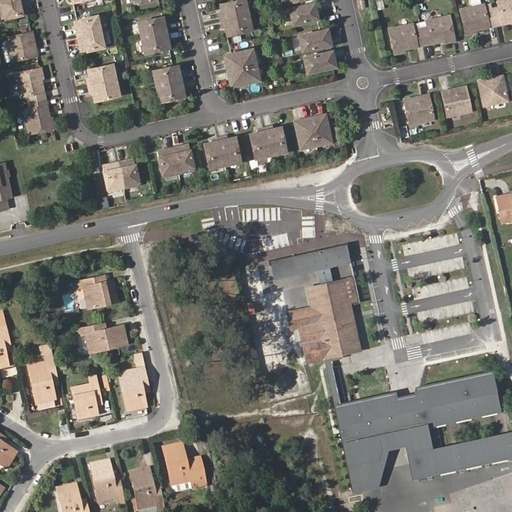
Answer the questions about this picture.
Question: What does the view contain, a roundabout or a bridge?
roundabout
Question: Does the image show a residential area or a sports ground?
residential area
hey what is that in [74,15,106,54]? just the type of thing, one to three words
house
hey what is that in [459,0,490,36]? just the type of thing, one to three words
house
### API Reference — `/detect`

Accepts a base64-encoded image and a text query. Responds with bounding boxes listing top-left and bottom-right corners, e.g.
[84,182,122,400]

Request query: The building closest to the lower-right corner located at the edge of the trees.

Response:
[326,360,512,494]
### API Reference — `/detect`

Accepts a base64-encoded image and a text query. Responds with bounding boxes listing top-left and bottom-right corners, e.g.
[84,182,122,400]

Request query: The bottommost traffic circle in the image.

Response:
[341,152,455,228]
